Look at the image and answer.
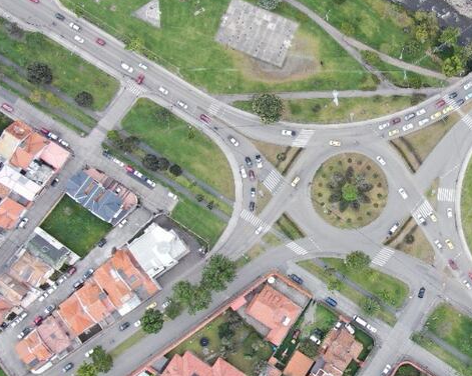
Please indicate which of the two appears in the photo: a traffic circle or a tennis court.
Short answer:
traffic circle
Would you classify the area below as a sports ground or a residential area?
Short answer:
residential area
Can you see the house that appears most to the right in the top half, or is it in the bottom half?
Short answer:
bottom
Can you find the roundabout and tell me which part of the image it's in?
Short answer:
right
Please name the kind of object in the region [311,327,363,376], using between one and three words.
house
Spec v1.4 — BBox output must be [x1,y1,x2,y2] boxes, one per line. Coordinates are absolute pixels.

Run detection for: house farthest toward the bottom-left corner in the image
[14,330,56,373]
